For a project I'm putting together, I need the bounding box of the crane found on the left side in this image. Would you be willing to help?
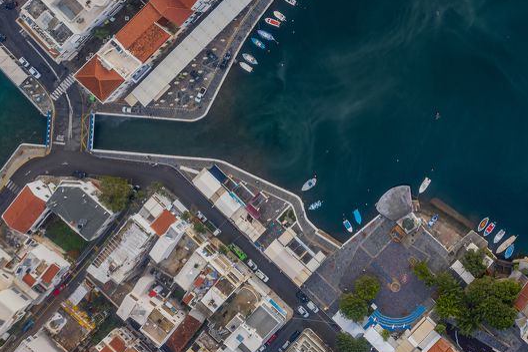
[58,298,98,330]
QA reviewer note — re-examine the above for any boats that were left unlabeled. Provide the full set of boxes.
[419,176,431,194]
[285,0,298,8]
[274,12,287,22]
[302,176,318,191]
[492,229,505,243]
[239,62,255,74]
[504,243,513,258]
[265,18,282,28]
[342,218,352,232]
[258,30,276,42]
[477,217,489,232]
[309,198,323,209]
[354,208,362,225]
[242,53,260,66]
[495,238,515,255]
[427,214,438,228]
[483,222,495,237]
[252,38,266,51]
